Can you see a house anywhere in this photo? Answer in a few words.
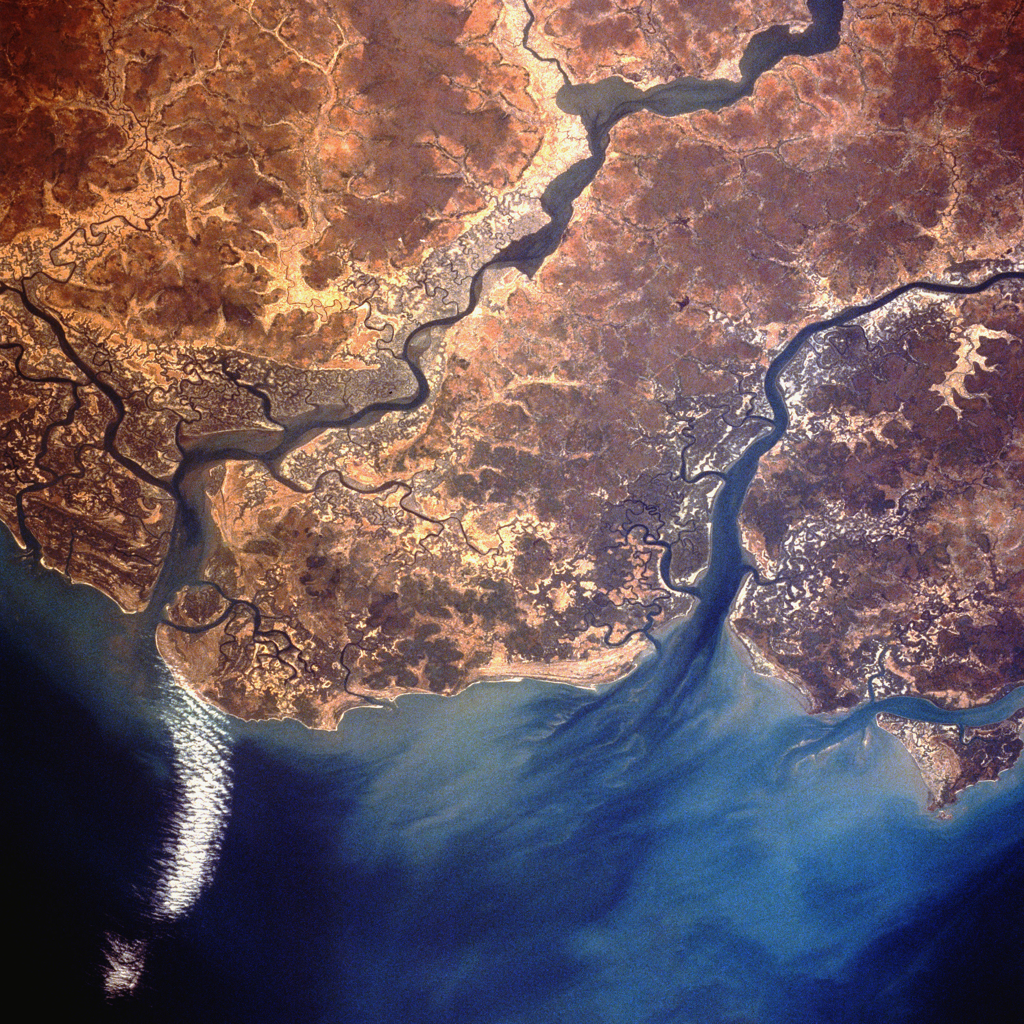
No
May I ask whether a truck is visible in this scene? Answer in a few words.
No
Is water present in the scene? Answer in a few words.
Yes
